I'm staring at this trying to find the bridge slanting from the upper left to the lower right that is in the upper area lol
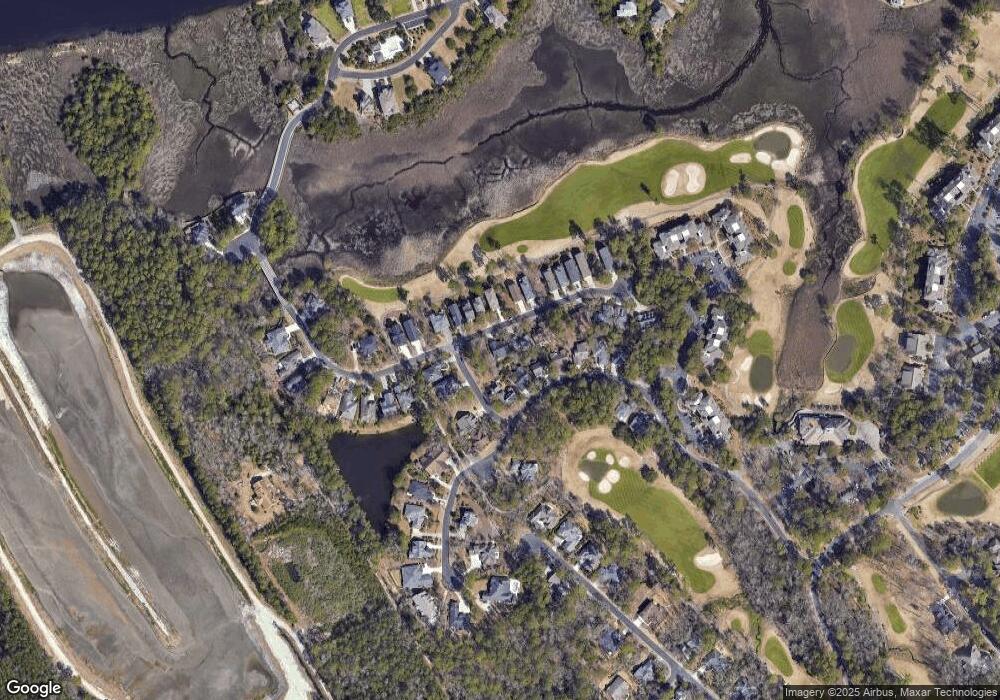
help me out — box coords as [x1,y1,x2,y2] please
[250,248,289,307]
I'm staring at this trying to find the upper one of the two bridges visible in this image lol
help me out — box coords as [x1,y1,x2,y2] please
[262,111,306,190]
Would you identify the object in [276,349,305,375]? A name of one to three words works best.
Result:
house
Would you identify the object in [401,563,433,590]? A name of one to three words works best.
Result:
house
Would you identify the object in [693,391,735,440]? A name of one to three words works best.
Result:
building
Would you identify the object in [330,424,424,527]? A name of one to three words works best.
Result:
pond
